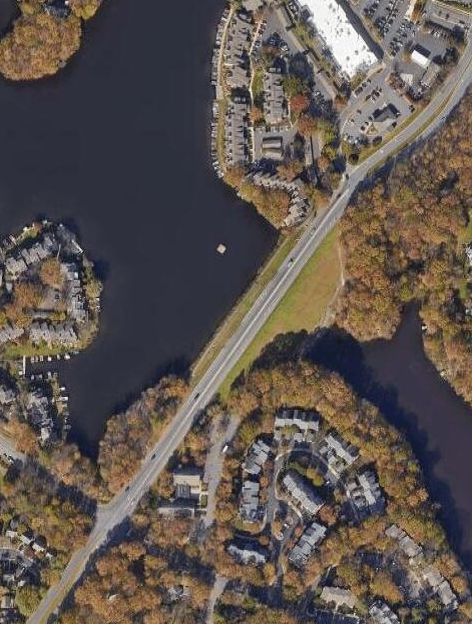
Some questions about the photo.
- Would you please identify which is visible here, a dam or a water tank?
dam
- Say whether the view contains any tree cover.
Yes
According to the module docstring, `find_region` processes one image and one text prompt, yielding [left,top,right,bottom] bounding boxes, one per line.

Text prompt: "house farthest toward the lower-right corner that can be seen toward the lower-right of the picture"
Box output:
[436,582,459,610]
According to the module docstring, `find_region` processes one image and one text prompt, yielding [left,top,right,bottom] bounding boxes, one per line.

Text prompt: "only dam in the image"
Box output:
[189,237,283,377]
